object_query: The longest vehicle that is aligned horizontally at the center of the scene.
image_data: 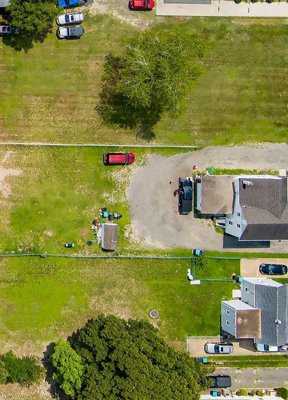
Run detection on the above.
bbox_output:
[105,152,137,166]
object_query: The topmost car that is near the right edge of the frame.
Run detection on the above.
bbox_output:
[261,264,288,277]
